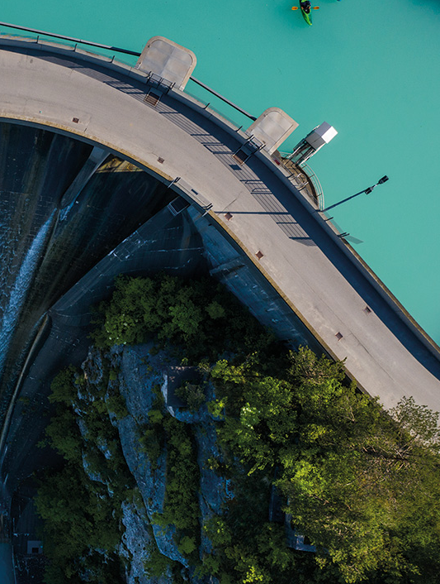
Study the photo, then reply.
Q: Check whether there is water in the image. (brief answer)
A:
Yes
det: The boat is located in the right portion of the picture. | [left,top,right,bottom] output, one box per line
[301,0,314,24]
